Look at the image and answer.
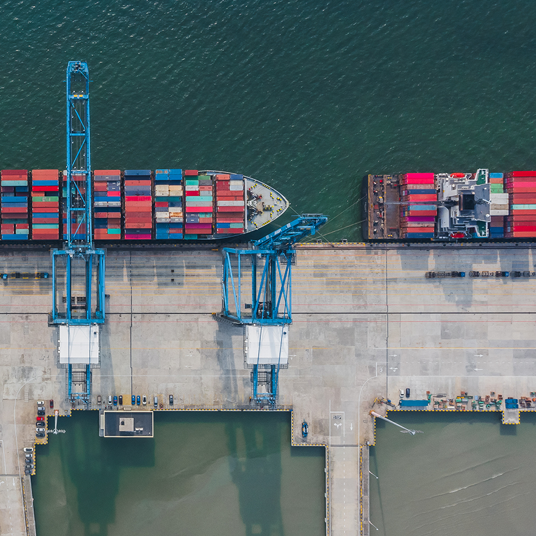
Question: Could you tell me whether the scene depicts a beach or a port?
port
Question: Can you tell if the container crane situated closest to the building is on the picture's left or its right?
left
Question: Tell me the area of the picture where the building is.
bottom left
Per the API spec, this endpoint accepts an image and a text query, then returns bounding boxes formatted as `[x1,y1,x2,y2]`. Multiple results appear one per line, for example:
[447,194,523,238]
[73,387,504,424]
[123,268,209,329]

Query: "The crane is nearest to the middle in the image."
[215,216,328,405]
